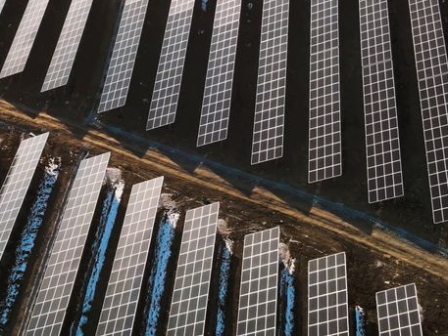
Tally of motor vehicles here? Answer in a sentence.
The picture shows no motor vehicles.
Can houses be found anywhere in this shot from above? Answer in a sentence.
No, I can't see a single house in this photo.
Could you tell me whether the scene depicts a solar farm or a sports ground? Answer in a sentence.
This image shows a solar farm.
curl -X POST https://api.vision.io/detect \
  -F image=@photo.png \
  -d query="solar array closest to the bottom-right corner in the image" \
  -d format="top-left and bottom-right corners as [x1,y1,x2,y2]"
[376,284,419,336]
